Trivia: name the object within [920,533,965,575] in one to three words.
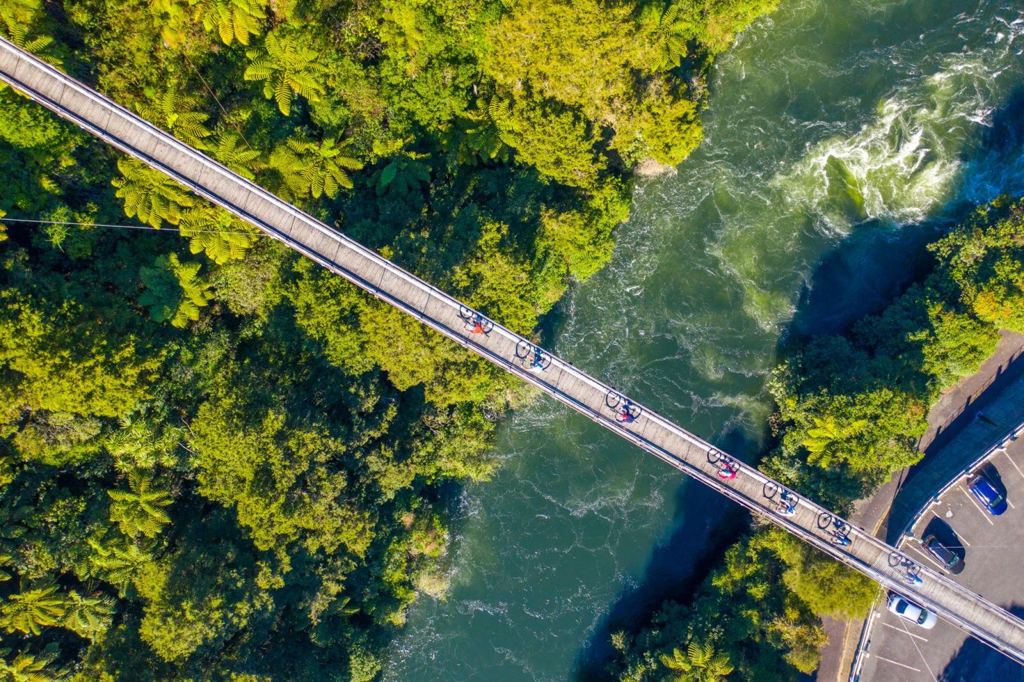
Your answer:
car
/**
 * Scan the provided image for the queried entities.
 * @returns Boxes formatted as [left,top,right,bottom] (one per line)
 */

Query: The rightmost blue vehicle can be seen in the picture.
[965,473,1005,516]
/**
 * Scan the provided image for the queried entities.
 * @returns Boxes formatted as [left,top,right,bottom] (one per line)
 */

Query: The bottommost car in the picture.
[884,592,936,630]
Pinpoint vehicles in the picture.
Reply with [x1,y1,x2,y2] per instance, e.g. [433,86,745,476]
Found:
[920,533,965,575]
[884,592,936,630]
[965,473,1005,516]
